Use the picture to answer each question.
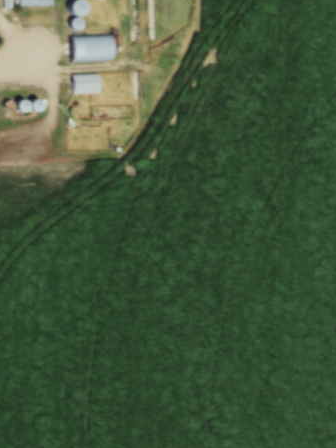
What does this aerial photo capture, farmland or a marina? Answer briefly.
farmland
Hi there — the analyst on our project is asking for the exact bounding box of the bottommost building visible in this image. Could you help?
[74,73,102,95]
